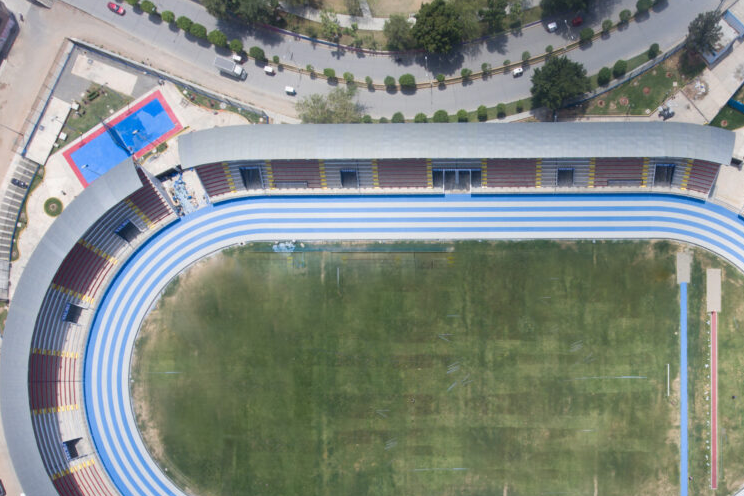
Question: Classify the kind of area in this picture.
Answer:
sports ground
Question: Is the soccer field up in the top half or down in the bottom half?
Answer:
bottom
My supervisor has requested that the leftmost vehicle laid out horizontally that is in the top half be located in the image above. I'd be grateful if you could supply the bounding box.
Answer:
[9,178,32,191]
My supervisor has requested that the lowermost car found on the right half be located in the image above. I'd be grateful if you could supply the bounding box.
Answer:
[510,65,525,79]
